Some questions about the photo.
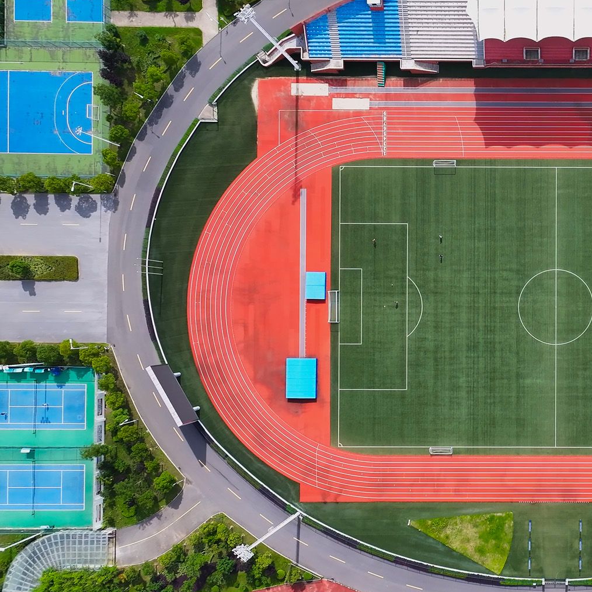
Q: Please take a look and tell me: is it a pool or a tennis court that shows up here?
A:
tennis court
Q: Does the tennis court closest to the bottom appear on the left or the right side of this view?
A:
left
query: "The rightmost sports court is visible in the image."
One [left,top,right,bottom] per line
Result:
[58,0,109,47]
